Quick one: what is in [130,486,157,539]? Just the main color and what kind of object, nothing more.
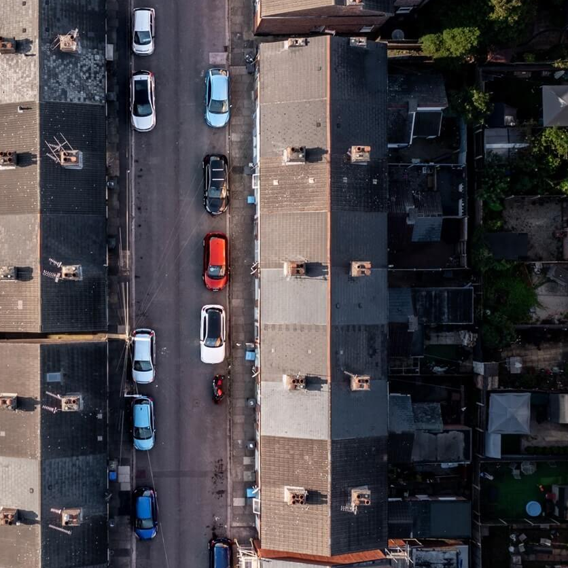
blue car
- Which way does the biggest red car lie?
from top to bottom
